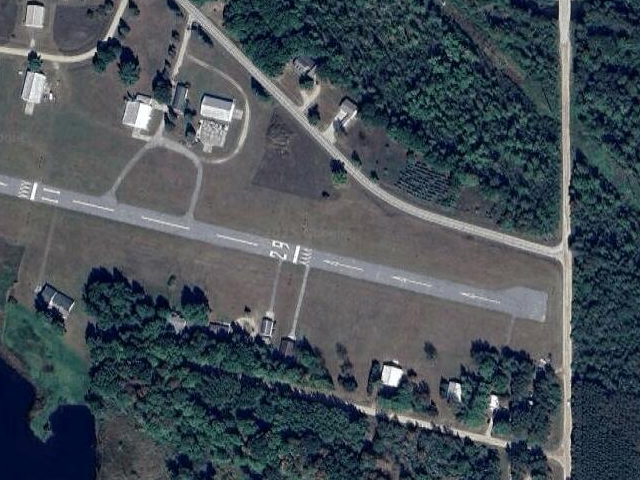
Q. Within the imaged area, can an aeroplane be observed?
No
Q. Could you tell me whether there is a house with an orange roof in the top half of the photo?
No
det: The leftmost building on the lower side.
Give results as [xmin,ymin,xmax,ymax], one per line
[40,285,73,312]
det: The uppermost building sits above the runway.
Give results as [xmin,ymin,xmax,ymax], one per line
[25,4,44,27]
